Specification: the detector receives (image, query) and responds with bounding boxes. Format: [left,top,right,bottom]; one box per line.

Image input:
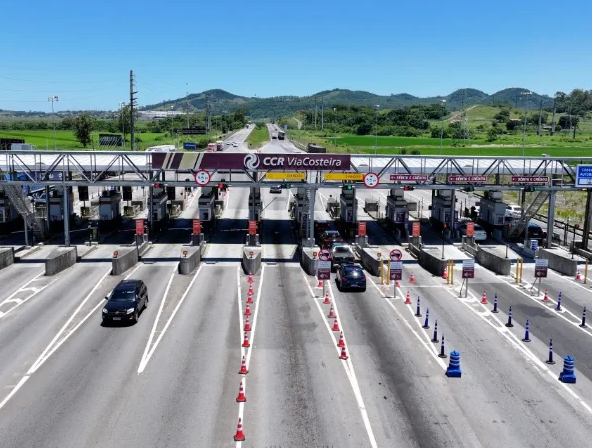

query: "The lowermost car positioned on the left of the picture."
[105,276,149,320]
